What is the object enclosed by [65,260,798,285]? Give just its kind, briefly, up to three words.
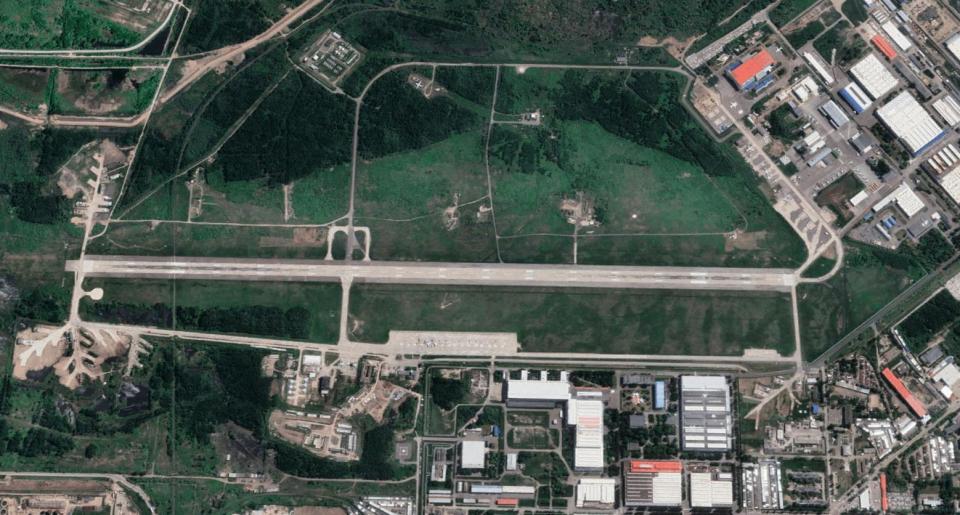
runway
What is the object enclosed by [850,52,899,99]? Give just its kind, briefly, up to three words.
building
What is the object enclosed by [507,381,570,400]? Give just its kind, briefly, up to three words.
building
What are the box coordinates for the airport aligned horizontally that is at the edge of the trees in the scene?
[19,62,844,387]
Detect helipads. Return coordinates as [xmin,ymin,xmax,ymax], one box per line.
[397,443,411,460]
